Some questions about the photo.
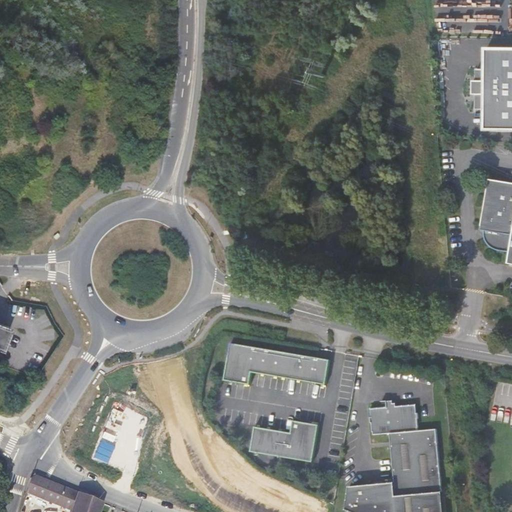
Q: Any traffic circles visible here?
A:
Yes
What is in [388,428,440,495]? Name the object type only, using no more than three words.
building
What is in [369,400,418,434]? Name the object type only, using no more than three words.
building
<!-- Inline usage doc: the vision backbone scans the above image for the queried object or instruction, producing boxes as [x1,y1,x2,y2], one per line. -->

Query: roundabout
[69,196,216,342]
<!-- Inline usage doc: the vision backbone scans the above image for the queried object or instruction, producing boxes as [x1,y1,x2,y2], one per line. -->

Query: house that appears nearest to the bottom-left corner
[28,472,80,510]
